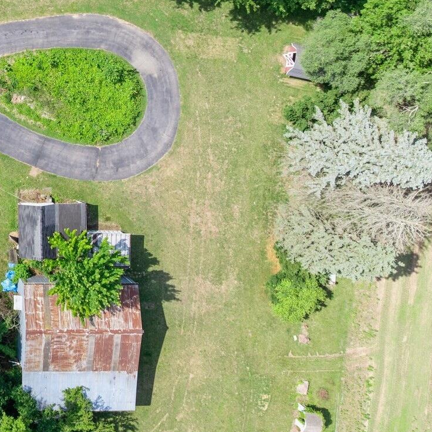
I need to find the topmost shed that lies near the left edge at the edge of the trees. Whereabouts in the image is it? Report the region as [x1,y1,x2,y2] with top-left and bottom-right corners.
[16,199,87,260]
